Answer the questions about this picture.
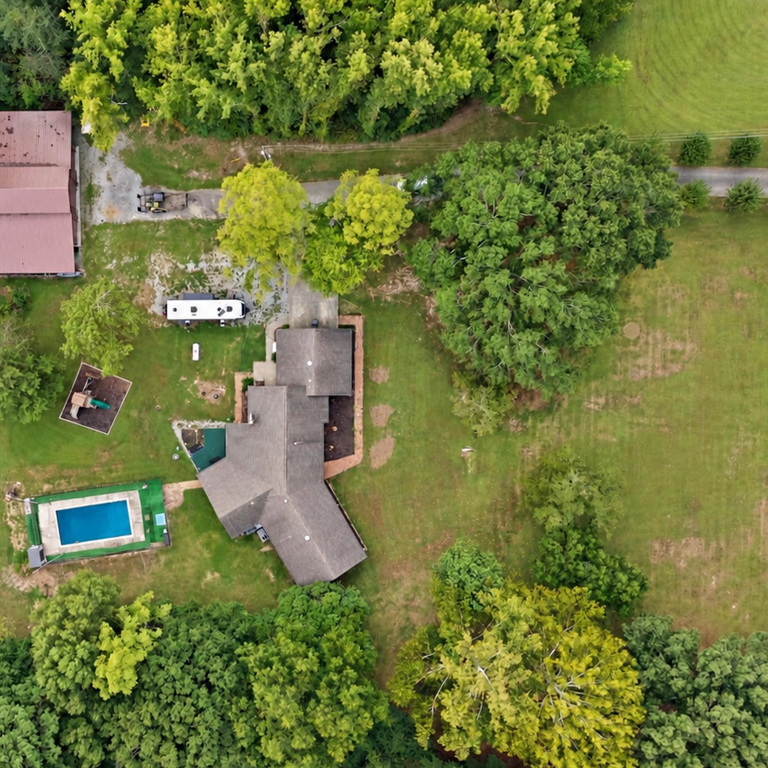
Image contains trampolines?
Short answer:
No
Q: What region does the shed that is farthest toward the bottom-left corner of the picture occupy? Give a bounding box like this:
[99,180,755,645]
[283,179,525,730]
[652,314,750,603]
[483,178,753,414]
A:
[27,544,51,568]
